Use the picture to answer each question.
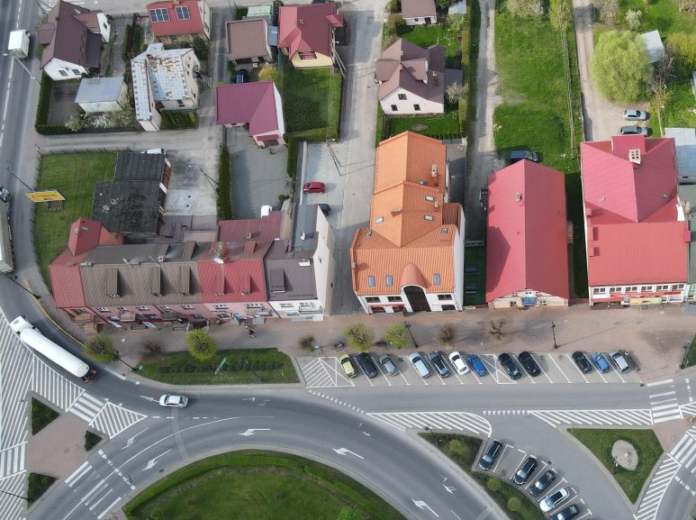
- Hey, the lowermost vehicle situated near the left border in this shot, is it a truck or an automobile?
truck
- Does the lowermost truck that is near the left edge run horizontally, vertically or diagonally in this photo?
diagonally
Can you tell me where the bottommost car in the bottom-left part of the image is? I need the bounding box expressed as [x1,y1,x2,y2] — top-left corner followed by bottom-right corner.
[159,393,188,407]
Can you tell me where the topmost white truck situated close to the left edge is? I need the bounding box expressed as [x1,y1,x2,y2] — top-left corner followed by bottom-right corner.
[8,29,33,69]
